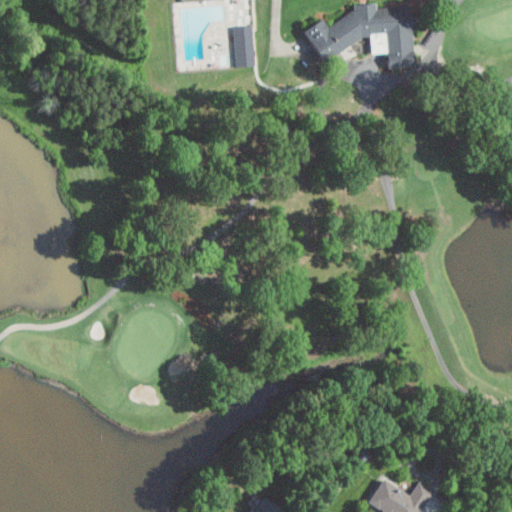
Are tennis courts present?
No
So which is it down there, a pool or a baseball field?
pool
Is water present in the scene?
Yes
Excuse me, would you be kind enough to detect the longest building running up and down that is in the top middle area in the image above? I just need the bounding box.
[234,26,254,68]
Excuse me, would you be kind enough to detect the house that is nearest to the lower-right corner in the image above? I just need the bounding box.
[370,483,432,512]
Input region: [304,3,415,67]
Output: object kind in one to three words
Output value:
house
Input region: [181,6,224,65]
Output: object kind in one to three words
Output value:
swimming pool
